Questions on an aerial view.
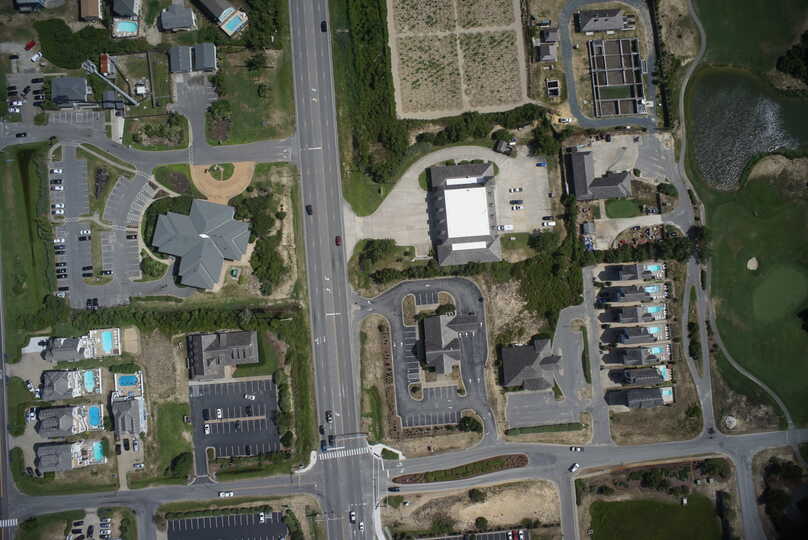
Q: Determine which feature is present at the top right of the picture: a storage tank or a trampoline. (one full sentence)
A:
The feature located at the top right of the picture is a storage tank.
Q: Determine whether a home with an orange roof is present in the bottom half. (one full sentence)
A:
No, the scene shows no home with an orange roof in the bottom half.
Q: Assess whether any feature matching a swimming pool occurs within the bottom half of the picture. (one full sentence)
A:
Yes, a swimming pool is visible within the bottom half of the picture.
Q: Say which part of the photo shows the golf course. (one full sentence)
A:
You can find the golf course in the right area of the picture.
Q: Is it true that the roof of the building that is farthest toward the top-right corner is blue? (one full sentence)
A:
No, the color of the roof of the building that is farthest toward the top-right corner is gray.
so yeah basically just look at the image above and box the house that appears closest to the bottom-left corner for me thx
[36,437,88,471]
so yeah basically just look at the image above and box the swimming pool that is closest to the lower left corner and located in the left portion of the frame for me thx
[81,441,107,467]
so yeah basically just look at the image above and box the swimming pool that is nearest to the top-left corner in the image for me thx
[113,18,139,38]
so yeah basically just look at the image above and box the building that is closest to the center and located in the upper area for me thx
[432,163,502,265]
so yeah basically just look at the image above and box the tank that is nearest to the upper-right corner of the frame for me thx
[587,38,649,119]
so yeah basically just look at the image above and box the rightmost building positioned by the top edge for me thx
[578,9,637,35]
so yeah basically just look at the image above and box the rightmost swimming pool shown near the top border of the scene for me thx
[224,9,248,36]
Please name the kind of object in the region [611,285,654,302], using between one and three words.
house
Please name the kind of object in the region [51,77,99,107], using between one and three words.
building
